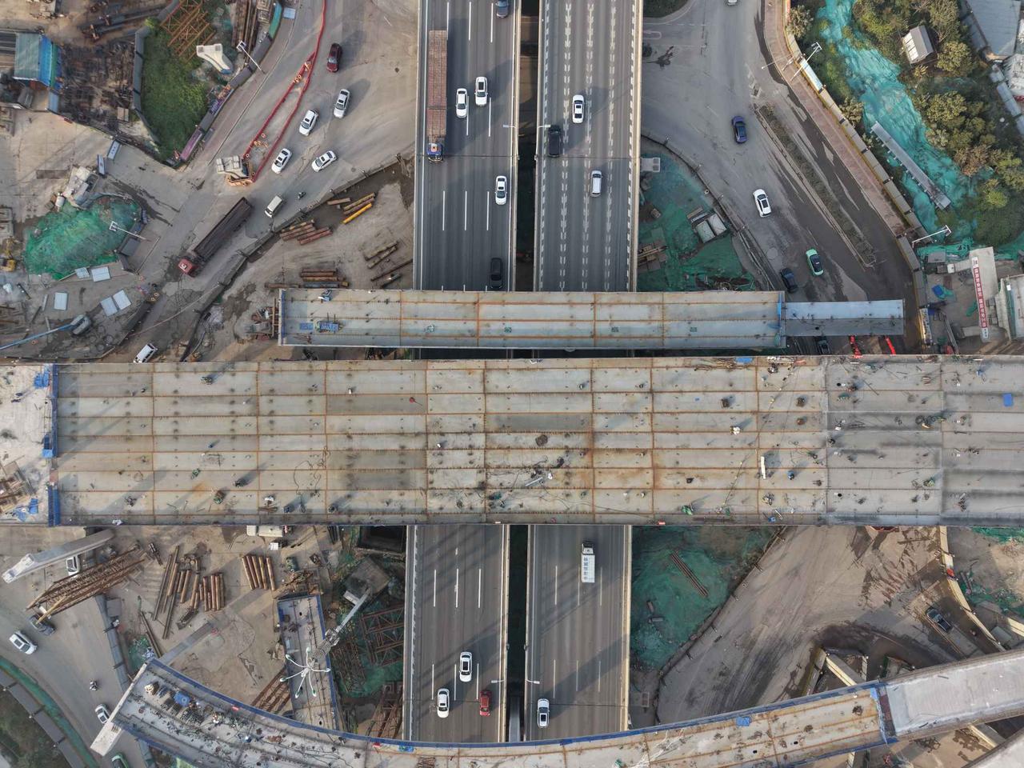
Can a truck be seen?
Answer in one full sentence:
Yes, I can see a truck in this picture.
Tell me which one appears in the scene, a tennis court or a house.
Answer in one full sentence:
The one in the frame is a house.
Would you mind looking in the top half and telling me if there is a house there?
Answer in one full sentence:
Yes, the scene does show a house in the top half.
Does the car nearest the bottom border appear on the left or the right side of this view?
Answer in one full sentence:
The car nearest the bottom border appears in the left half of the scene.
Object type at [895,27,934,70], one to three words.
house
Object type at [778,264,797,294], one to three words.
car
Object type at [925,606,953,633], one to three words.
truck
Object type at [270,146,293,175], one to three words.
car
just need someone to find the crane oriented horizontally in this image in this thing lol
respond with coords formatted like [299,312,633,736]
[0,309,97,345]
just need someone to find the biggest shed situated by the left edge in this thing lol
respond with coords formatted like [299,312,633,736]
[6,33,70,93]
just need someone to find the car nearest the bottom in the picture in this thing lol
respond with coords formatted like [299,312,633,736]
[109,746,133,768]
